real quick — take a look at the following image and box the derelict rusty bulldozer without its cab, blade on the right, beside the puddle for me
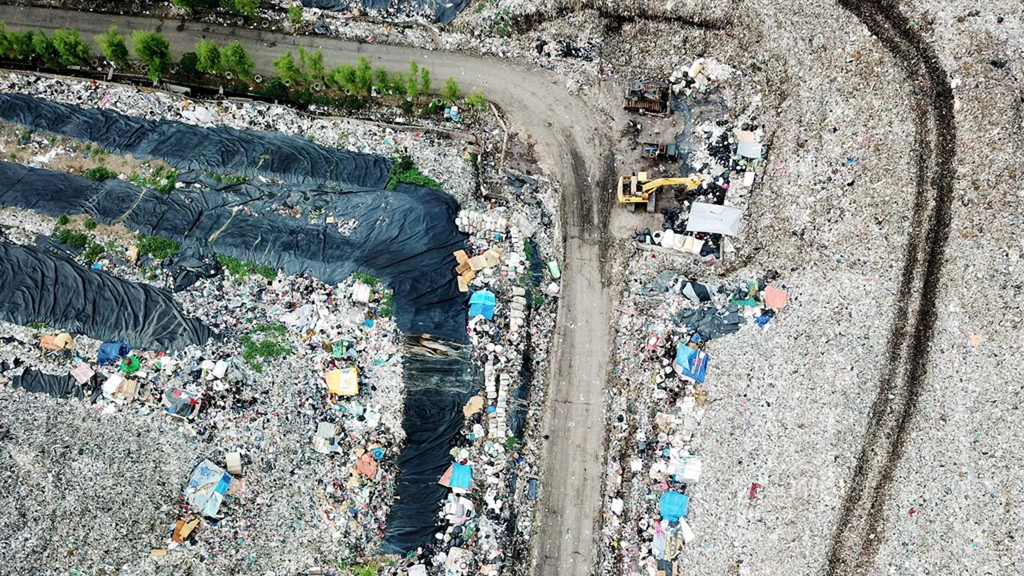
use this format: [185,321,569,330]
[624,84,673,117]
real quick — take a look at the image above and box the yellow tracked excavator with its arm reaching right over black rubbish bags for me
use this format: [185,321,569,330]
[619,174,711,211]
